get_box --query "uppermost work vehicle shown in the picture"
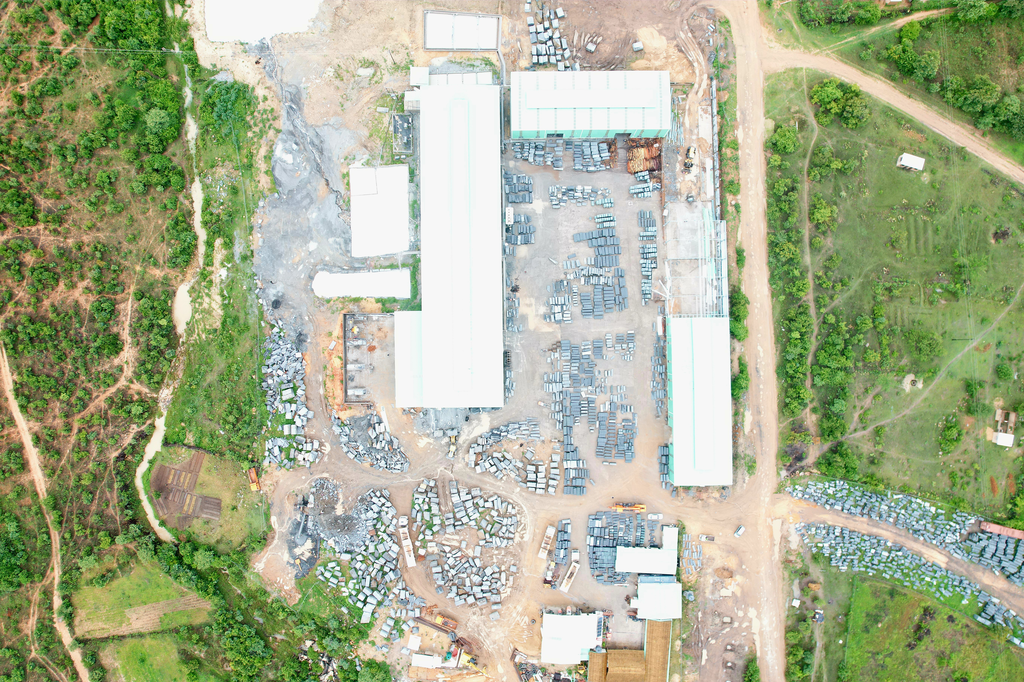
[683,145,695,172]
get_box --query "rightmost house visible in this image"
[986,409,1017,447]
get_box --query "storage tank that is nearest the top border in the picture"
[424,11,500,51]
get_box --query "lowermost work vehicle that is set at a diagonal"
[458,648,491,675]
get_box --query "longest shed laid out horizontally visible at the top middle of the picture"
[511,71,671,138]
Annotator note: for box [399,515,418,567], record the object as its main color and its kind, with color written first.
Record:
white vehicle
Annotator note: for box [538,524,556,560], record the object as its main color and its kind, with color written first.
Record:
white vehicle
